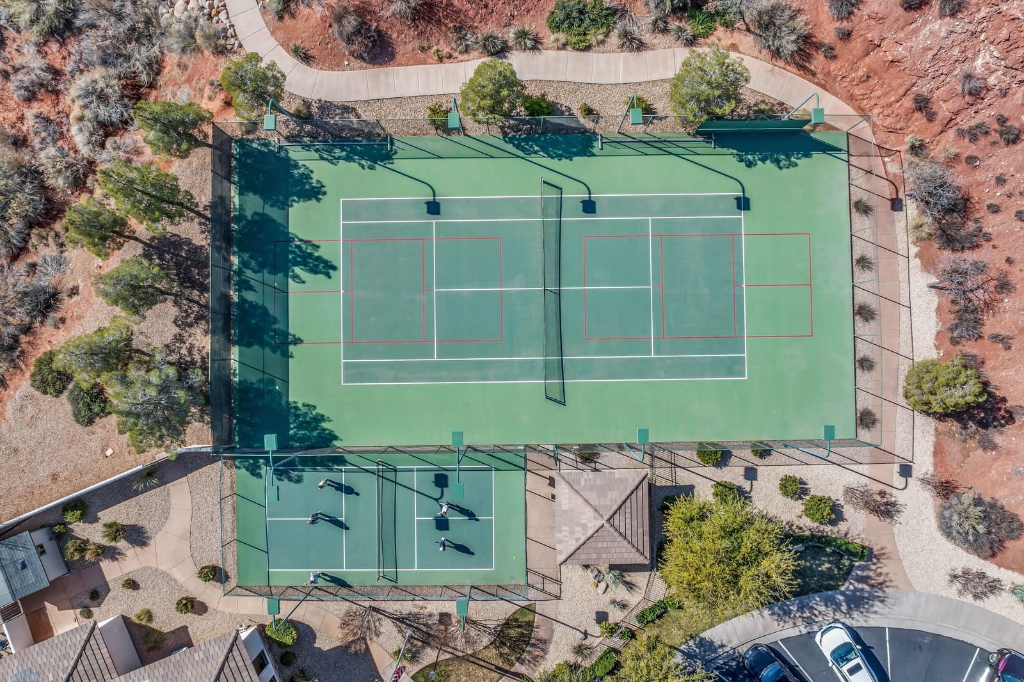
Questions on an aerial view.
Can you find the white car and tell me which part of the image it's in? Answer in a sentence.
Look in the bottom right portion of the view to spot the white car.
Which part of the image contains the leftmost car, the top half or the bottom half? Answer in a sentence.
Seen from above, the leftmost car lies in the bottom half of the view.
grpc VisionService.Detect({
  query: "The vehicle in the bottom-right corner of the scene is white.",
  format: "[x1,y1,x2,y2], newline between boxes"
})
[815,622,876,682]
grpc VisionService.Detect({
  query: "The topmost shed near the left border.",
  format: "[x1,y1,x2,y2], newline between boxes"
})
[0,527,70,608]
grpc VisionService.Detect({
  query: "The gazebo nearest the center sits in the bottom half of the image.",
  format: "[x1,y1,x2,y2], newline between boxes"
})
[554,466,653,568]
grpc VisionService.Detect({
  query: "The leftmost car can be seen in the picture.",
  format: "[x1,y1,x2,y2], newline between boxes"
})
[742,637,809,682]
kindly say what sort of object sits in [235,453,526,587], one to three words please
sports court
